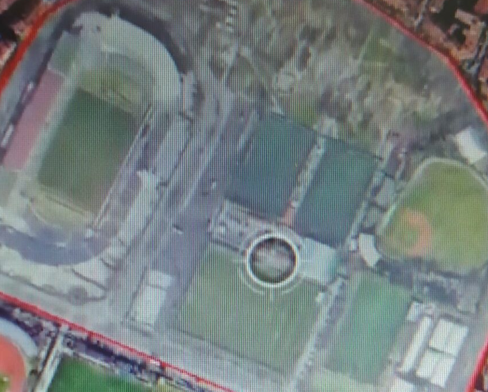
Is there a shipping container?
No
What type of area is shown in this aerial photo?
sports ground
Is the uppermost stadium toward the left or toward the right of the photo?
left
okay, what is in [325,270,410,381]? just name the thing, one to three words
soccer field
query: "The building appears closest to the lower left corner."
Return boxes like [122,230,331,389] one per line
[133,272,172,328]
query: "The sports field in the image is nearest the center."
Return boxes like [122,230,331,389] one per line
[222,114,318,215]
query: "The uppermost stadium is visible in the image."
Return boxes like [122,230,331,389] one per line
[0,12,184,289]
